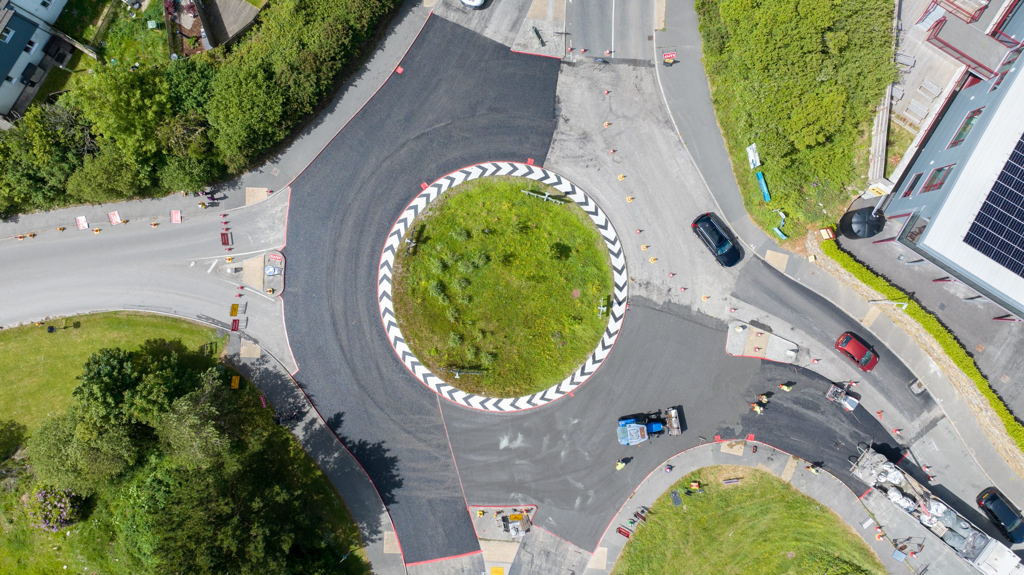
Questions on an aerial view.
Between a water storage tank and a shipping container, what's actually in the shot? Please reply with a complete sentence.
Of the two, only a water storage tank appears.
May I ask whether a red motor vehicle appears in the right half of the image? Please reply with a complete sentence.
Yes, a red motor vehicle can be seen in the right half of the image.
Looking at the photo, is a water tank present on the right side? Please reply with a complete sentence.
Yes, on the right side there is a water tank.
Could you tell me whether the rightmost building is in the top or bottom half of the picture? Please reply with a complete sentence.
The rightmost building sits in the top half of the picture.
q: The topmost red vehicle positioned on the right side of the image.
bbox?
[834,332,879,373]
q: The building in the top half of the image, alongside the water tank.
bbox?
[873,0,1024,321]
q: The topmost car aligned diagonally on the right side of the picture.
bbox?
[692,212,739,268]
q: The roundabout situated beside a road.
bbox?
[379,162,628,411]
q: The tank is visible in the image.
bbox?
[842,203,892,241]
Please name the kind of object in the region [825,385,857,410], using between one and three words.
work vehicle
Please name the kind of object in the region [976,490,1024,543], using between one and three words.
car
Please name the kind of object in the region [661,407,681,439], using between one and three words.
vehicle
